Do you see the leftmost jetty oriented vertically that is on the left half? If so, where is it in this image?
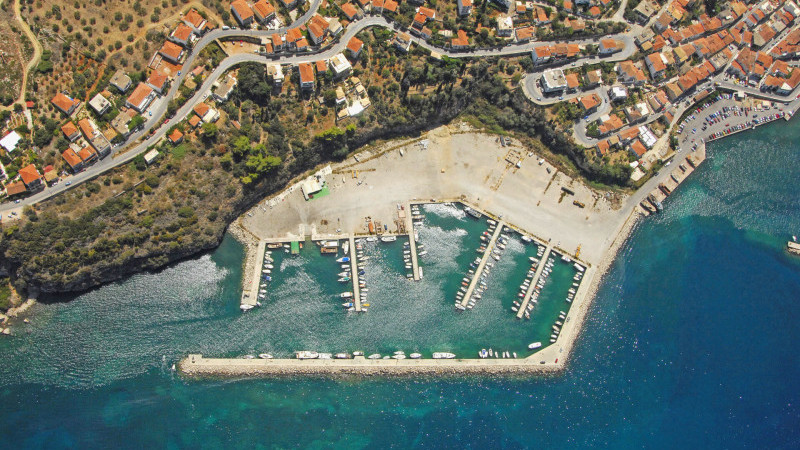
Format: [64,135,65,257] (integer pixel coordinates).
[241,242,266,305]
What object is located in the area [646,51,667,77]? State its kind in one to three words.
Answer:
house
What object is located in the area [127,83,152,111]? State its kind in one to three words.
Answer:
house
